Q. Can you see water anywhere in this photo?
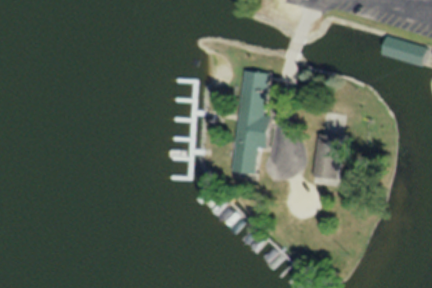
Yes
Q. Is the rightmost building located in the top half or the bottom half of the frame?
top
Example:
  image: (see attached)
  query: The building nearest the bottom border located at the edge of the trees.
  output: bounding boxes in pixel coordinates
[314,134,342,186]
